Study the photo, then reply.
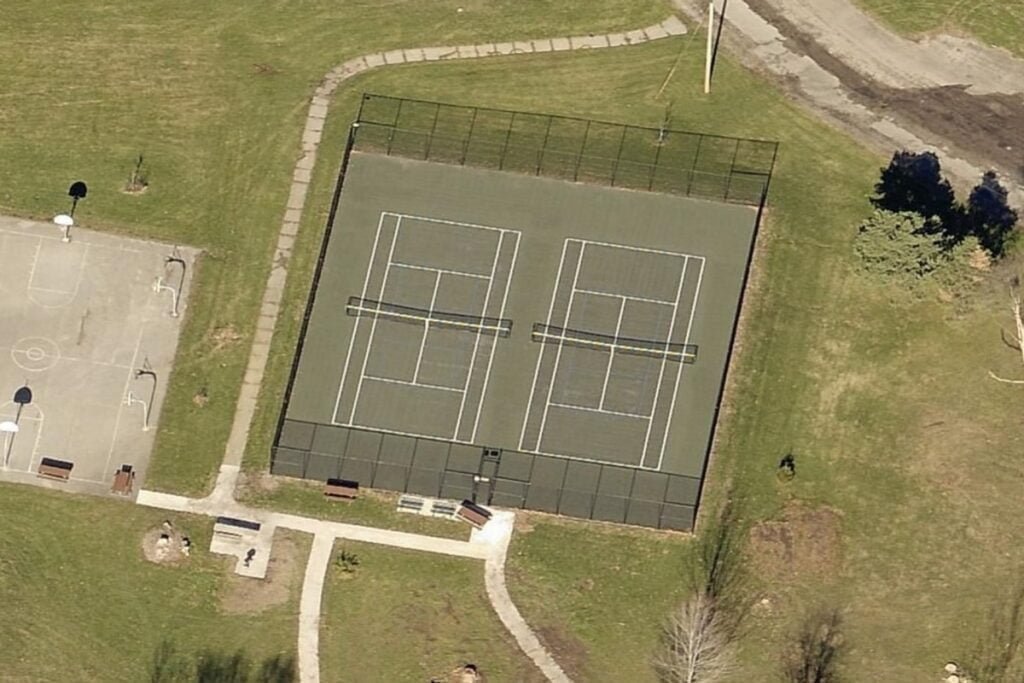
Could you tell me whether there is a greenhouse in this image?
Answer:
No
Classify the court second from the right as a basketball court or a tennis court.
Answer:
tennis court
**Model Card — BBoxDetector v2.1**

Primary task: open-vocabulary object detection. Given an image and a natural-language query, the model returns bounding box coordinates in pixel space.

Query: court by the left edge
[0,216,203,498]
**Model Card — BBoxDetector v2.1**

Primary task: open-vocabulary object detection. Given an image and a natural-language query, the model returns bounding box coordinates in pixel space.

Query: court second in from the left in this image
[333,213,520,443]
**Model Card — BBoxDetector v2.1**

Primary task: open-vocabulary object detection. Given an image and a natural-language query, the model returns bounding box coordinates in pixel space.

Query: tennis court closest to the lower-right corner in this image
[519,239,704,470]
